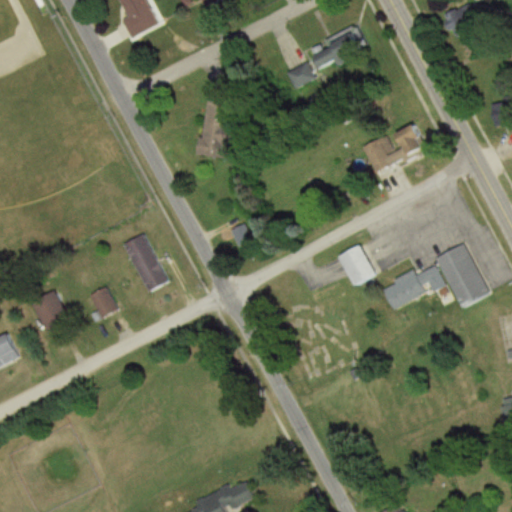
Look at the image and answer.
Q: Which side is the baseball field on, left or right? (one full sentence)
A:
The baseball field is on the left side of the image.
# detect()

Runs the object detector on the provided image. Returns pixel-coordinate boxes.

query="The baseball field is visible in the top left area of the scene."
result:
[0,0,147,257]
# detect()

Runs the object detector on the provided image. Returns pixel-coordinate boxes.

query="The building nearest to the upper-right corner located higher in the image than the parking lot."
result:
[445,2,471,33]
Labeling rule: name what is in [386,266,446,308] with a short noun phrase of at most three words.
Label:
building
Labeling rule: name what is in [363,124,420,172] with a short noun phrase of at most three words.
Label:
house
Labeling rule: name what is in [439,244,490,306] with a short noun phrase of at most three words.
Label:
building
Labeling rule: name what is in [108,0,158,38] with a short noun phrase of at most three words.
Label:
house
